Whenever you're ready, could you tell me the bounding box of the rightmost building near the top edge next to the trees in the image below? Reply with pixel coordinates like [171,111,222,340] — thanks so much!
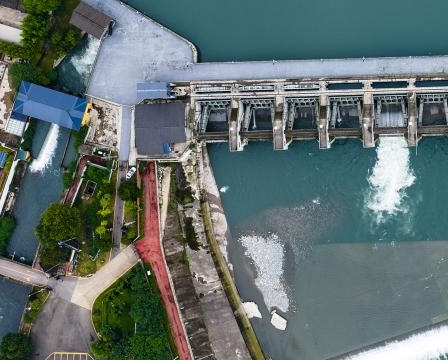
[69,2,119,43]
